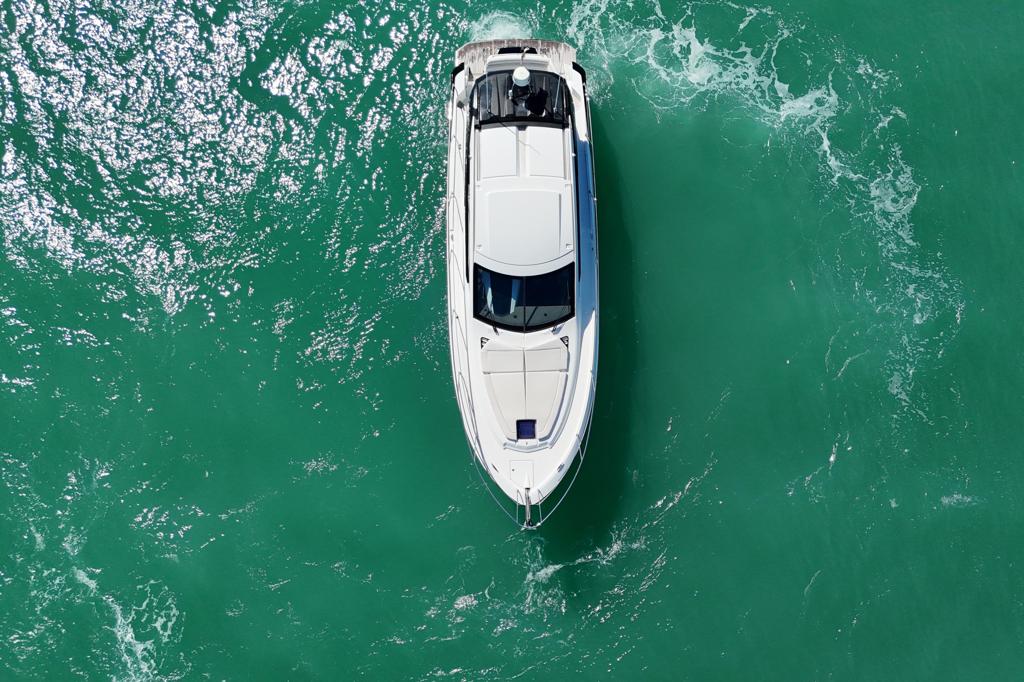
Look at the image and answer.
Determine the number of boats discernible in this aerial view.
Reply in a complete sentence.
In total, there is 1 boat in the scene.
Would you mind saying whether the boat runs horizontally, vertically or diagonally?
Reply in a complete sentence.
The boat is oriented vertically.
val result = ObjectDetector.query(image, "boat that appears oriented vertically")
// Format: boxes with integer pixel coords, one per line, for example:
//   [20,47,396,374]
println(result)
[446,39,600,529]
